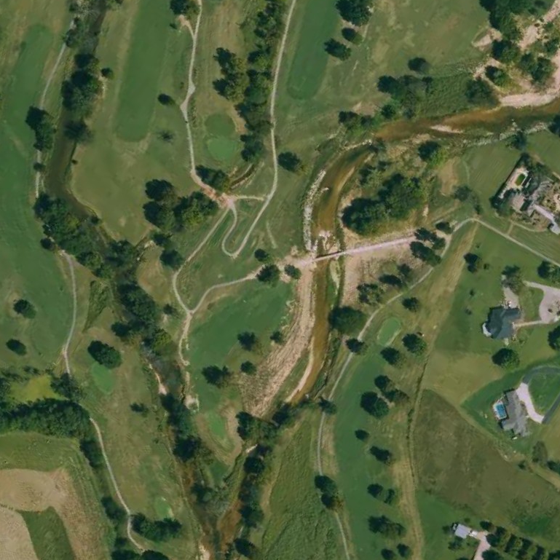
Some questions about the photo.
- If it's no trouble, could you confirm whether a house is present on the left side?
No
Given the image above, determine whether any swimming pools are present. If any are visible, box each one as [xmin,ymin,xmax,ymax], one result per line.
[494,403,504,419]
[513,173,527,188]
